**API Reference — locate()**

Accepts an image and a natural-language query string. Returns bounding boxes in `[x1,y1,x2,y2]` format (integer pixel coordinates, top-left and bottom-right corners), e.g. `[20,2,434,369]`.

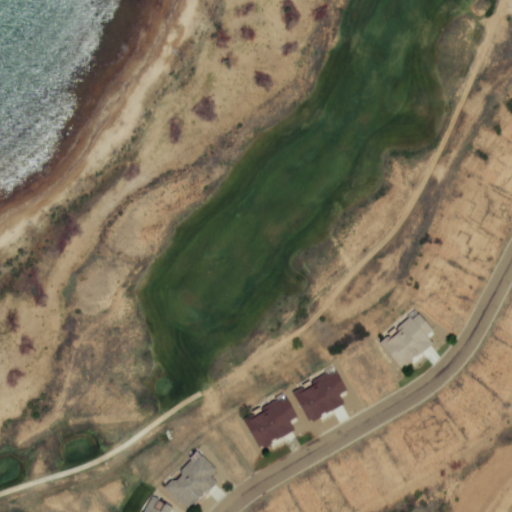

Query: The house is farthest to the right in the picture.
[381,312,434,368]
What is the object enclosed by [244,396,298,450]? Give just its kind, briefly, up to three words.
house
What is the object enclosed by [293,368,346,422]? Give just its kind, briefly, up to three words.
house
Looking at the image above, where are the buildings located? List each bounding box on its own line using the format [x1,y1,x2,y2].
[381,312,434,368]
[293,368,346,422]
[164,452,216,508]
[244,396,298,450]
[142,496,175,512]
